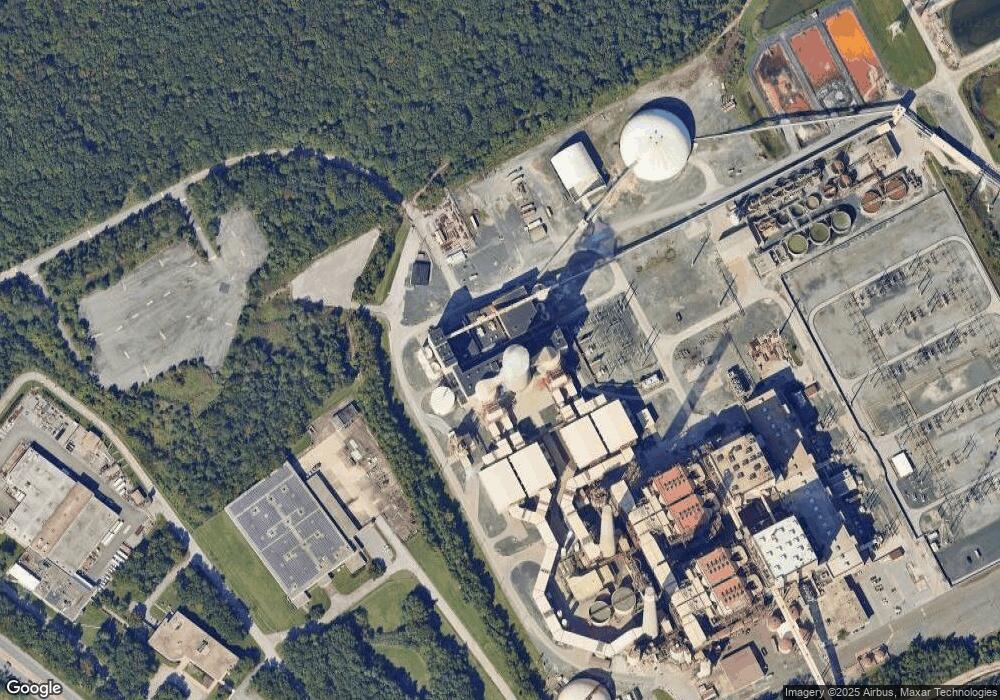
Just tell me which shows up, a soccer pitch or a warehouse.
warehouse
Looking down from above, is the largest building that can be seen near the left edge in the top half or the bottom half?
bottom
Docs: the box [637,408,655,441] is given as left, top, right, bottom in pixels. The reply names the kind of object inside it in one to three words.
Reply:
building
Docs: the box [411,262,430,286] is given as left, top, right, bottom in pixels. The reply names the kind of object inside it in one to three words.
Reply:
shed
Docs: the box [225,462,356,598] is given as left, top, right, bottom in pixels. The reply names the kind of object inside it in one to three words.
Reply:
warehouse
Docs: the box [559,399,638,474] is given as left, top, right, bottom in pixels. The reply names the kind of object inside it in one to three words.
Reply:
house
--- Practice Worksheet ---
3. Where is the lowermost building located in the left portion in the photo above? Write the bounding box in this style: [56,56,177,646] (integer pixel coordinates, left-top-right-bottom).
[149,611,239,692]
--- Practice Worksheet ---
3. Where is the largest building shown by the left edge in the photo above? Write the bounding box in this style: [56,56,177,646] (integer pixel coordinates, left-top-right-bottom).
[3,447,120,573]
